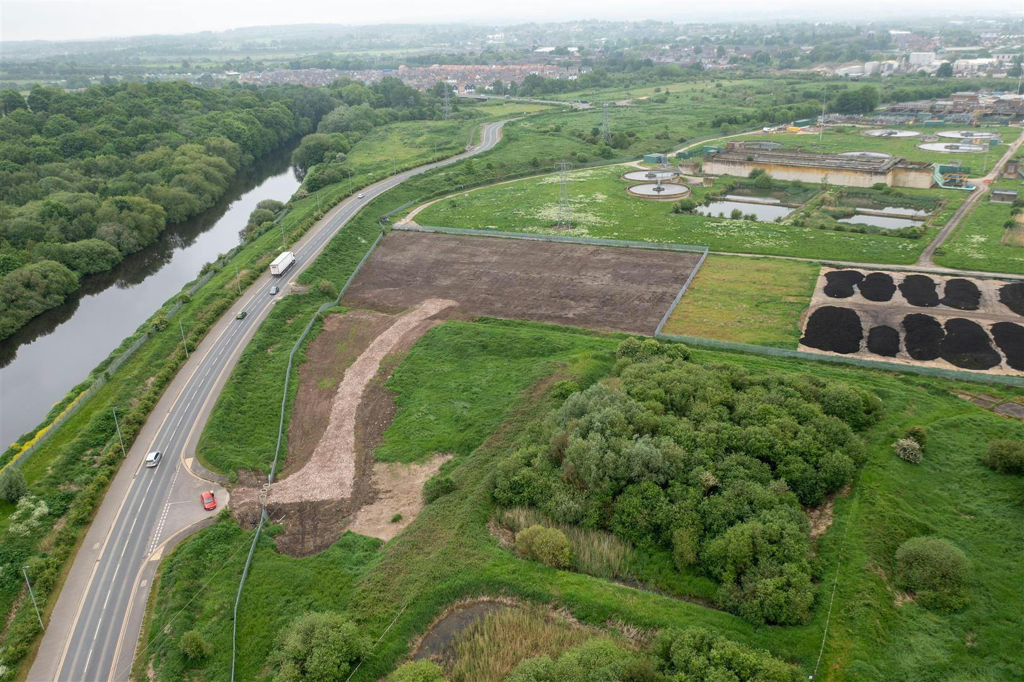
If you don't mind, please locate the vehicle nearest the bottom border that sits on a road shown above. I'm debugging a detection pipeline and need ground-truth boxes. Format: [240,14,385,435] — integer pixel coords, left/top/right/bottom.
[201,489,216,508]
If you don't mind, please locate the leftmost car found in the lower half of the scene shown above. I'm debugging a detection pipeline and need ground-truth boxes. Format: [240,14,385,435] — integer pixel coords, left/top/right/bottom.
[143,450,161,466]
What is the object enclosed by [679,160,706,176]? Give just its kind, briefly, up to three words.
building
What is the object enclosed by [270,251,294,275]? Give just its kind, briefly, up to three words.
truck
